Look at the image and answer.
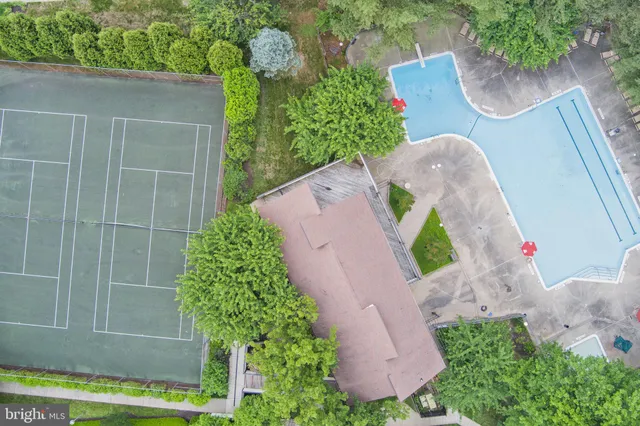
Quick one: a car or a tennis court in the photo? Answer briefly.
tennis court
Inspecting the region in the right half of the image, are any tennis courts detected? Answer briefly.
No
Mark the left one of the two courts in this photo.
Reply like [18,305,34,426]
[0,67,103,372]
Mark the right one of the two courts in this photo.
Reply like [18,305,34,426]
[78,75,226,384]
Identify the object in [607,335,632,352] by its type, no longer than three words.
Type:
umbrella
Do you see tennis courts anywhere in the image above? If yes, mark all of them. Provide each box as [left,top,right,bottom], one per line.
[78,75,226,384]
[0,67,103,372]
